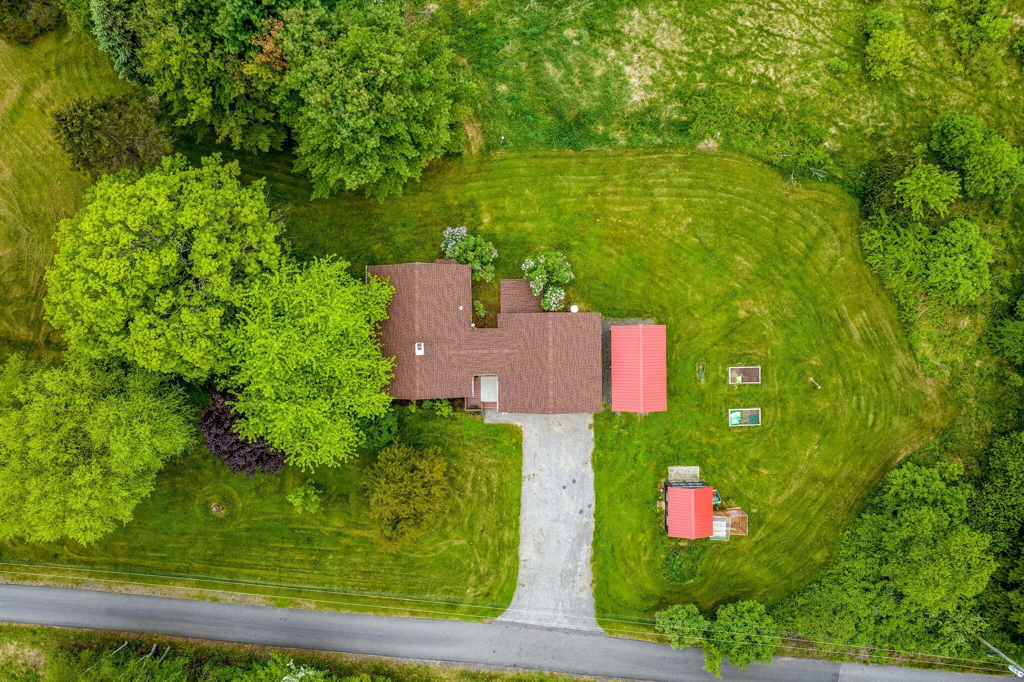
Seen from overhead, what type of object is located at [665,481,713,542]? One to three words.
shed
